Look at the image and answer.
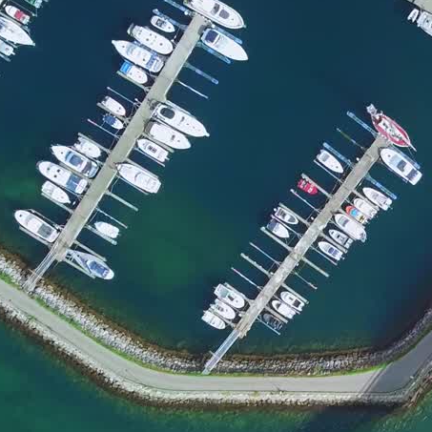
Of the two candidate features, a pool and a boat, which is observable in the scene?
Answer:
boat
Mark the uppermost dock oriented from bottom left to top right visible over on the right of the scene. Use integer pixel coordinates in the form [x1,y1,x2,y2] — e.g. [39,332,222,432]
[209,110,422,337]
